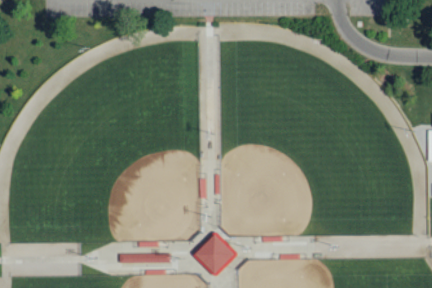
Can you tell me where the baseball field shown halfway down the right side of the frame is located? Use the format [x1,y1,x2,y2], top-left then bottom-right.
[221,41,414,236]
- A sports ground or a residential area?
sports ground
